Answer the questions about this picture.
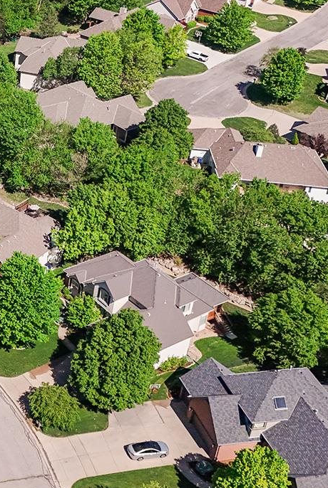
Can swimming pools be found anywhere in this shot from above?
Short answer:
No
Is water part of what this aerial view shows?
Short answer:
No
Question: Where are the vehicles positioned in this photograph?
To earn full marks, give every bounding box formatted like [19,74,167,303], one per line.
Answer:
[127,437,174,460]
[184,47,212,61]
